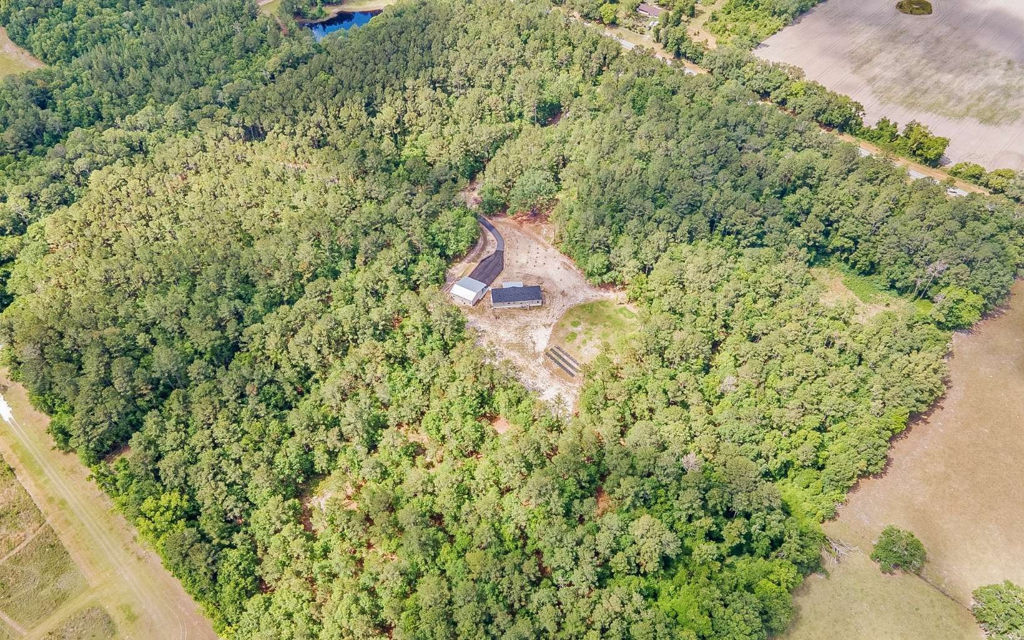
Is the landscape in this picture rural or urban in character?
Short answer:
rural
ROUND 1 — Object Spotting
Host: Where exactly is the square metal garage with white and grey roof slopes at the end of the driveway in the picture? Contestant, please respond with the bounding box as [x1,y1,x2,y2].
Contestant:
[449,276,491,307]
